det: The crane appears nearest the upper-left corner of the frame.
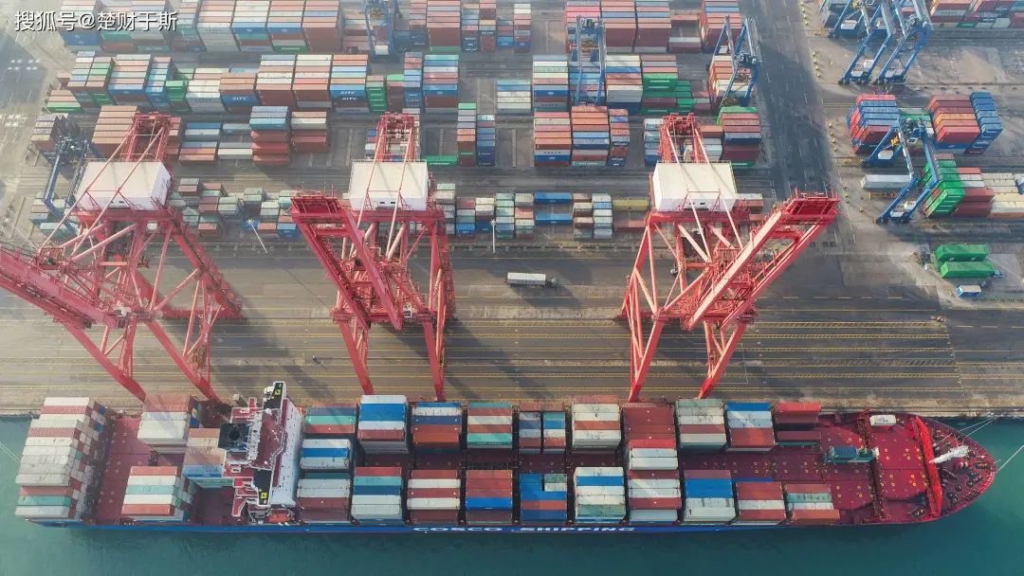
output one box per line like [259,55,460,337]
[36,133,110,241]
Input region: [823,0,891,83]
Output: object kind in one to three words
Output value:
crane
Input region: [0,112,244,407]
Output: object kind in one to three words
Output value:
container crane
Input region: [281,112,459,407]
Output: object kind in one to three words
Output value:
container crane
